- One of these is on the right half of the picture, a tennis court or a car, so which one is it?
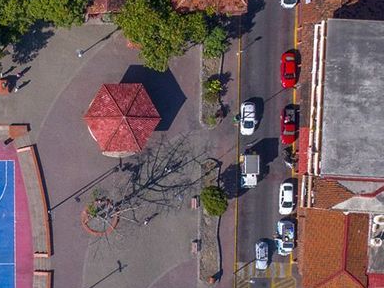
car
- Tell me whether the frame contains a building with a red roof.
Yes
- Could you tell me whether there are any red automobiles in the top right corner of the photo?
Yes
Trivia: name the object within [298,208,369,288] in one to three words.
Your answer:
house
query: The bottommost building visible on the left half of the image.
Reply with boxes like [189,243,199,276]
[83,84,160,162]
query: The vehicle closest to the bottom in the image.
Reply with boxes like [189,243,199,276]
[253,241,270,270]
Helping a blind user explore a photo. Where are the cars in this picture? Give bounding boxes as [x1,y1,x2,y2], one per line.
[278,53,299,89]
[238,103,258,136]
[274,219,296,256]
[278,105,299,145]
[277,182,295,215]
[279,0,299,11]
[253,241,270,270]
